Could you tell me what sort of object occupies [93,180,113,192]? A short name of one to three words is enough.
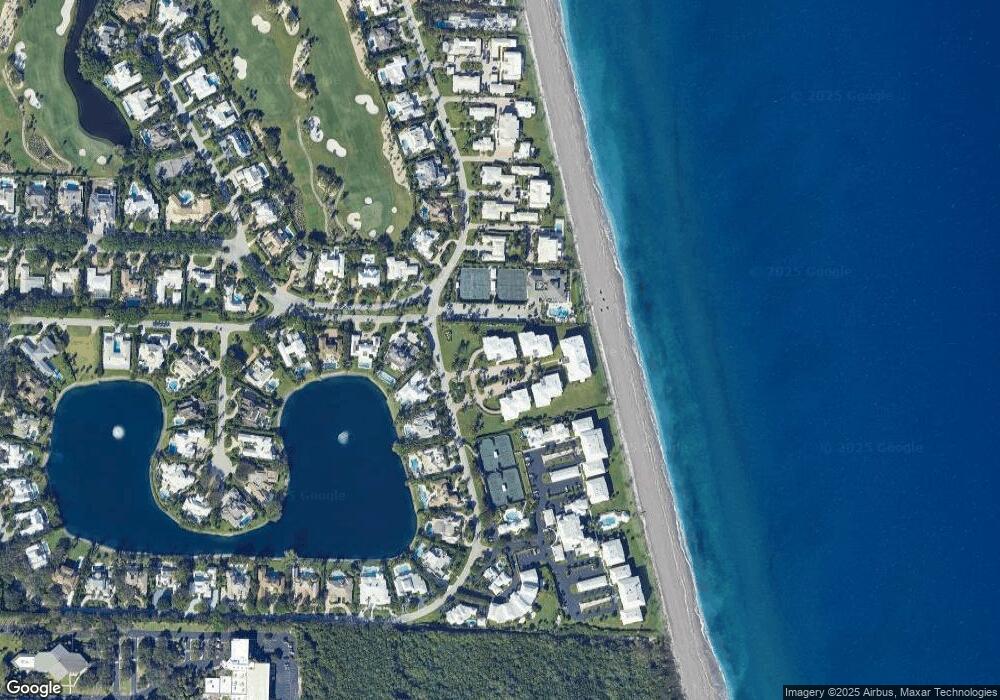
swimming pool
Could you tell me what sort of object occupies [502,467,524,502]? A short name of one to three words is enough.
tennis court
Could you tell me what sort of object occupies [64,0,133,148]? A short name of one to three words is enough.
pond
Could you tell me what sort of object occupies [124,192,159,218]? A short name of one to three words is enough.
house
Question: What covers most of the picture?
water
